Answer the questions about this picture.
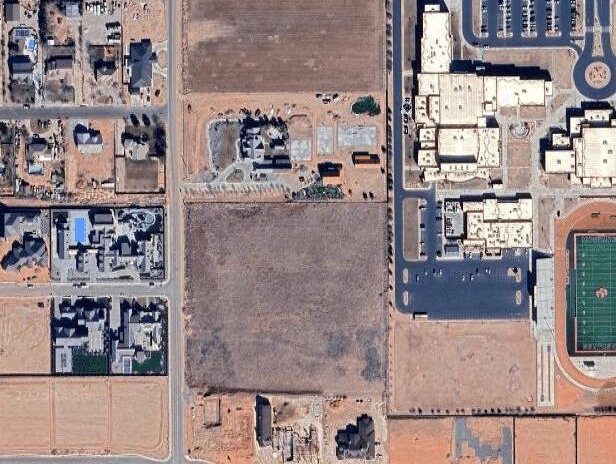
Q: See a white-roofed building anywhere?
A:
Yes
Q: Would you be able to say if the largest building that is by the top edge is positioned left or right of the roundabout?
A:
left of it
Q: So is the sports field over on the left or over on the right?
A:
right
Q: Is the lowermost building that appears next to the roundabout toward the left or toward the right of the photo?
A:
right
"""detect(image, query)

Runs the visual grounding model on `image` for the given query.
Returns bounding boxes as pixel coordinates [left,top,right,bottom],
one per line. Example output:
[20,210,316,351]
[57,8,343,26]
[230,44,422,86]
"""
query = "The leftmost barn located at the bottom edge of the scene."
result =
[256,396,271,447]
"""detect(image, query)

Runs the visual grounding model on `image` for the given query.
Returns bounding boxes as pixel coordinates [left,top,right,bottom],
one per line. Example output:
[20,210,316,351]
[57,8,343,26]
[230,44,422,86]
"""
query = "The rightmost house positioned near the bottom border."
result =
[337,418,375,461]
